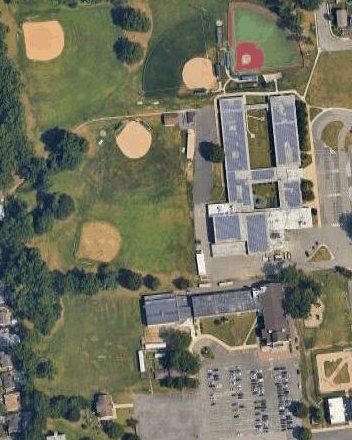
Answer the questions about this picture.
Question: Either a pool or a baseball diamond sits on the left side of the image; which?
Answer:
baseball diamond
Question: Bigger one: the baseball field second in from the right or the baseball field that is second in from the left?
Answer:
the baseball field second in from the right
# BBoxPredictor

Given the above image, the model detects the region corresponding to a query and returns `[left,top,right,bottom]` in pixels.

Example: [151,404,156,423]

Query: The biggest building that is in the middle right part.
[209,95,314,258]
